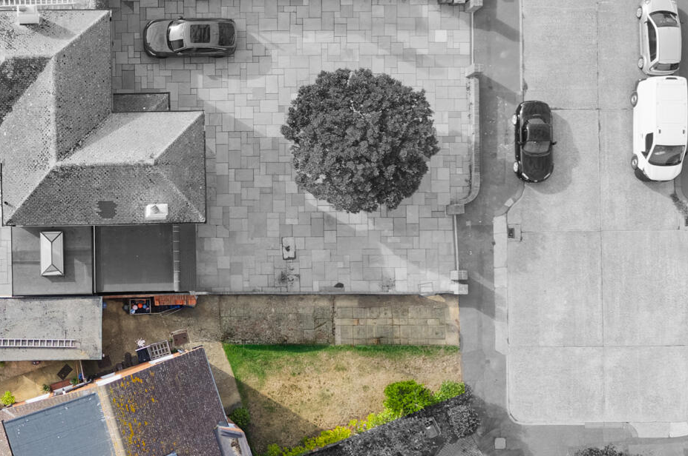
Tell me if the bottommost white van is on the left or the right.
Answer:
right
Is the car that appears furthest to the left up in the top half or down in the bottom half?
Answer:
top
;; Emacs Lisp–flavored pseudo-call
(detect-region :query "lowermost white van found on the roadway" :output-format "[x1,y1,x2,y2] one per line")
[626,70,688,183]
